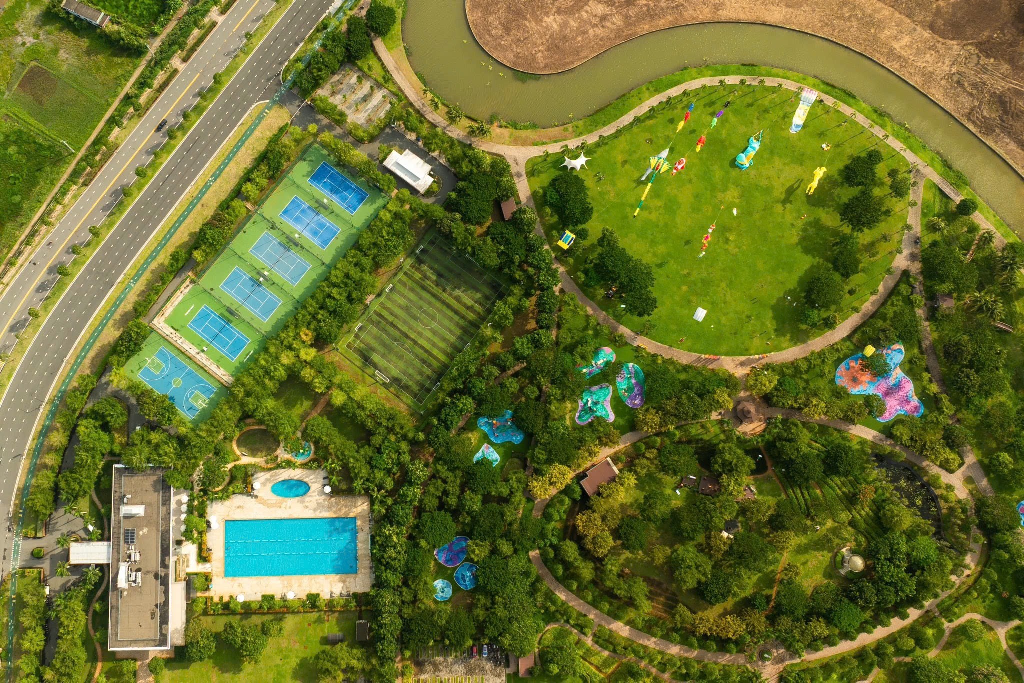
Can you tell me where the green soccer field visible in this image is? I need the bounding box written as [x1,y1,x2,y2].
[346,234,510,405]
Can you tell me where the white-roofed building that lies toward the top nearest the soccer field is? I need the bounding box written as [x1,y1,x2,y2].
[384,149,434,195]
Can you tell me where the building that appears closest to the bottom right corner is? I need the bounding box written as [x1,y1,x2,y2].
[835,544,865,580]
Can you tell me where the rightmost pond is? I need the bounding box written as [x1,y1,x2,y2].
[874,455,941,544]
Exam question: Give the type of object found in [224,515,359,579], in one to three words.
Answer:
swimming pool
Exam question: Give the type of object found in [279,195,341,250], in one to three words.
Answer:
tennis court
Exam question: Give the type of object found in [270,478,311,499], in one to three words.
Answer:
swimming pool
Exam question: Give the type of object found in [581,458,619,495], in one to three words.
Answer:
building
